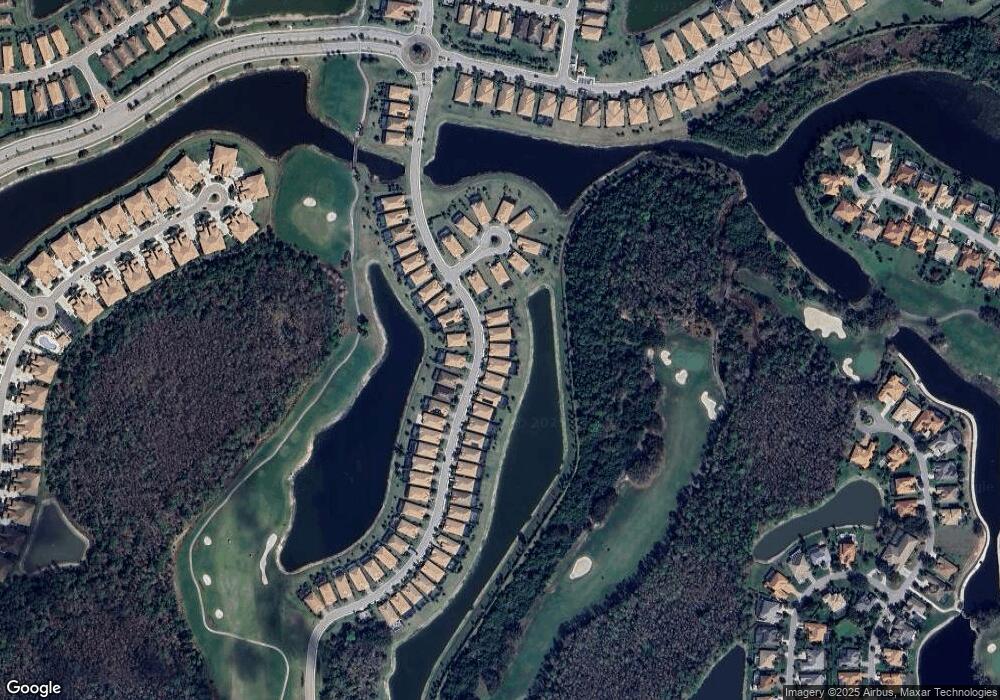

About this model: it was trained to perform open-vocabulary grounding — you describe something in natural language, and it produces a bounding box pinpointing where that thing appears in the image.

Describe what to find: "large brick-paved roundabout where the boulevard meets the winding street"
[400,32,439,72]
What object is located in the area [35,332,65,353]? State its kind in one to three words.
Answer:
swimming pool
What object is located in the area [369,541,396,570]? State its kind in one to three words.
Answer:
house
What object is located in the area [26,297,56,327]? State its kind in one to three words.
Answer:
roundabout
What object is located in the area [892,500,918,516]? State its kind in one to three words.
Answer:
house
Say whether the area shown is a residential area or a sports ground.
residential area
